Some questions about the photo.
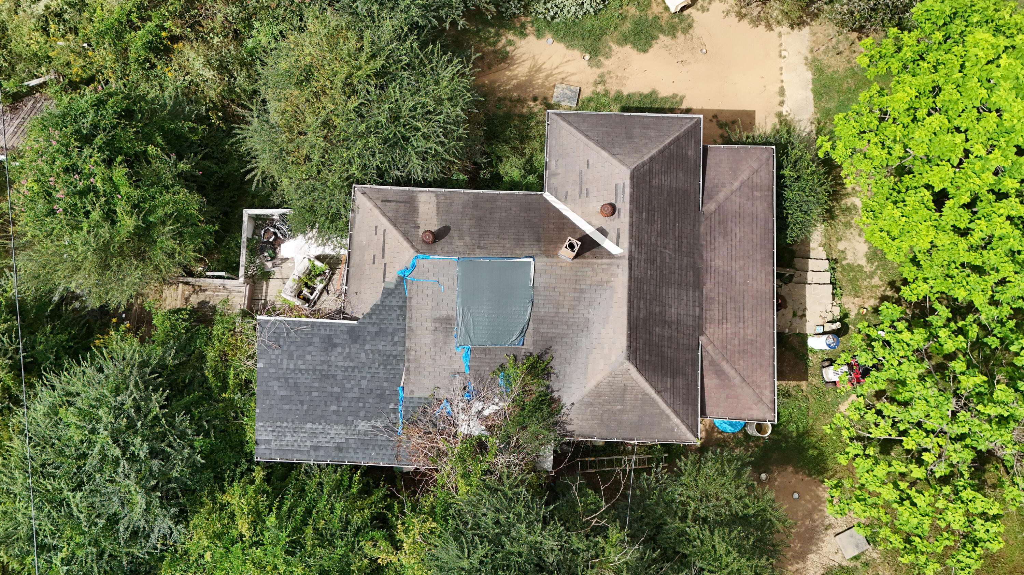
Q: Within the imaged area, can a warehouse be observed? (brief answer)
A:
No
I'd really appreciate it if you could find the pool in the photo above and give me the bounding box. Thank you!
[714,419,747,433]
